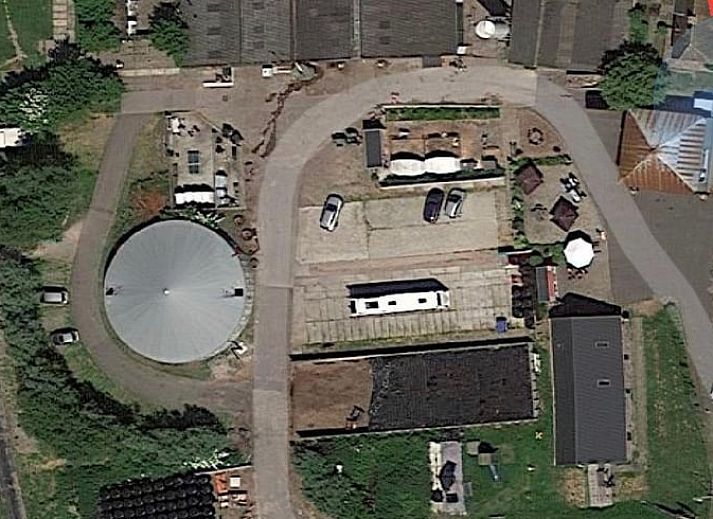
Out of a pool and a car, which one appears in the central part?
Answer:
car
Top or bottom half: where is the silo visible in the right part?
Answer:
top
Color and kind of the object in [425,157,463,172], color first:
white tent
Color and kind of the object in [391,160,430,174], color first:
white tent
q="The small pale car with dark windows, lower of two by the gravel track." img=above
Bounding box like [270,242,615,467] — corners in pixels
[51,329,80,347]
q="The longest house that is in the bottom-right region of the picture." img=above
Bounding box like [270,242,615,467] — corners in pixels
[549,316,632,467]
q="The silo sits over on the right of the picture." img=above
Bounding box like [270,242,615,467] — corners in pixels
[476,19,511,39]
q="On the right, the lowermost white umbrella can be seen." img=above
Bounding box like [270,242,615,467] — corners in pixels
[565,238,595,268]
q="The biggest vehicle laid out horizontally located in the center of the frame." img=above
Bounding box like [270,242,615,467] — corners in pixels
[352,289,450,320]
